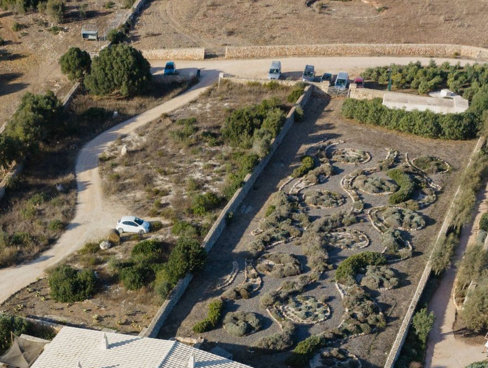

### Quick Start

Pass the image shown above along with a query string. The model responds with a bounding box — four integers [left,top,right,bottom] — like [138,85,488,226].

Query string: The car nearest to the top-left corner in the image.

[162,60,175,74]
